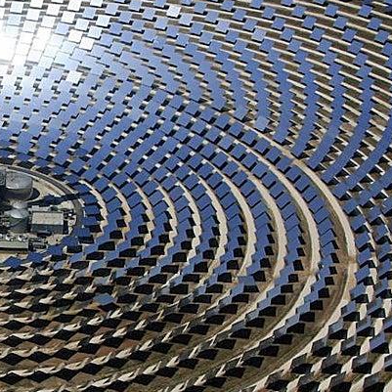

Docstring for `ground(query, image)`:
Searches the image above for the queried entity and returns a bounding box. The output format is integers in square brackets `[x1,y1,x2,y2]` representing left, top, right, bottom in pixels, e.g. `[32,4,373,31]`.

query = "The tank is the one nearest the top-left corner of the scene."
[2,171,33,201]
